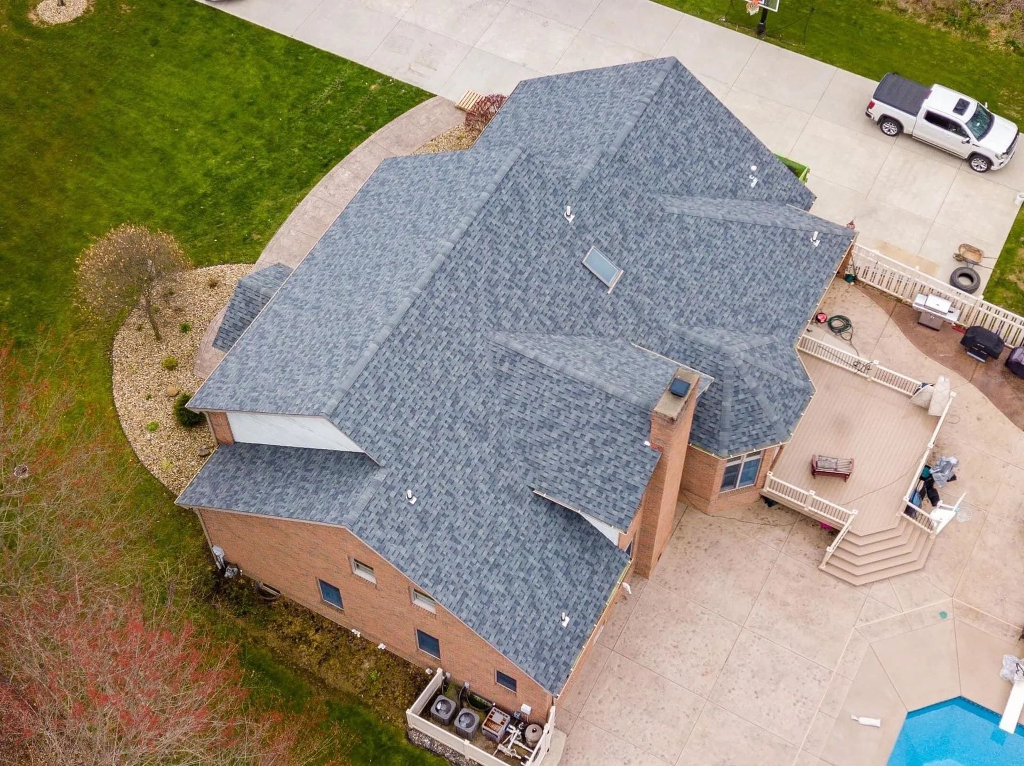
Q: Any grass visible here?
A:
Yes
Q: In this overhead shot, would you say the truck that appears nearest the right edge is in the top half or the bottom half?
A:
top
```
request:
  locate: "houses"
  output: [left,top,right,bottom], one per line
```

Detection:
[173,54,859,730]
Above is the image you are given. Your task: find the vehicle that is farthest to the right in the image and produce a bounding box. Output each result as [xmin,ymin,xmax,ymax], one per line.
[862,70,1024,169]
